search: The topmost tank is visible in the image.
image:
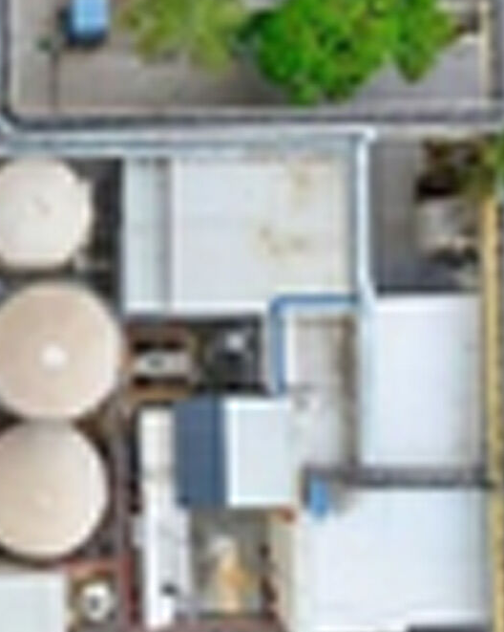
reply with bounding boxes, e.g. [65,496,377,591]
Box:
[0,158,94,277]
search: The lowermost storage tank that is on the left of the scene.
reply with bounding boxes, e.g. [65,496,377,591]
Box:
[0,415,109,558]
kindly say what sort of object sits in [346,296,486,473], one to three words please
building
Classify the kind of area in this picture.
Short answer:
industrial area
